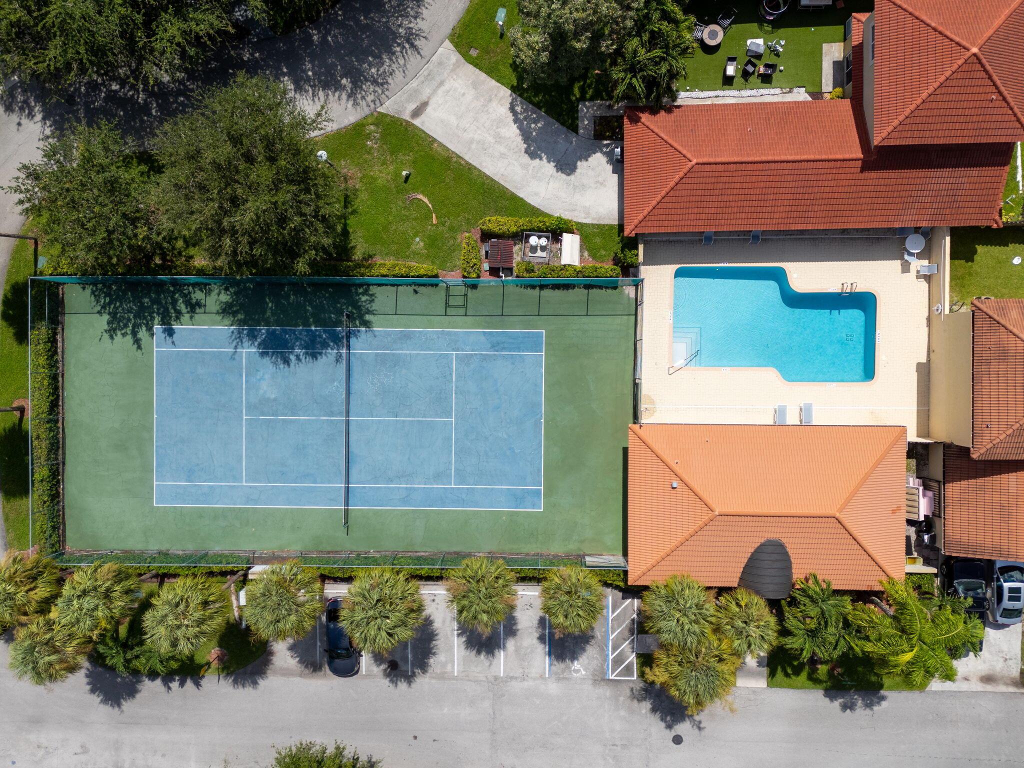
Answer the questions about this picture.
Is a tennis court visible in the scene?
Yes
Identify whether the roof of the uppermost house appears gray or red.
red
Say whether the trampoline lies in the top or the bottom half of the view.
top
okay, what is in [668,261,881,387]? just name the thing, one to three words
swimming pool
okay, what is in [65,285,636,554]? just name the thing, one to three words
tennis court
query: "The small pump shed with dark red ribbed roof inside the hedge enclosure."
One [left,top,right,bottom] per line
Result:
[489,240,514,282]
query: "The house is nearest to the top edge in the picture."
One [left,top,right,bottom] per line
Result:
[623,0,1024,238]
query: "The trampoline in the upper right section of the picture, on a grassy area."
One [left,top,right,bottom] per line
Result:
[756,0,794,32]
